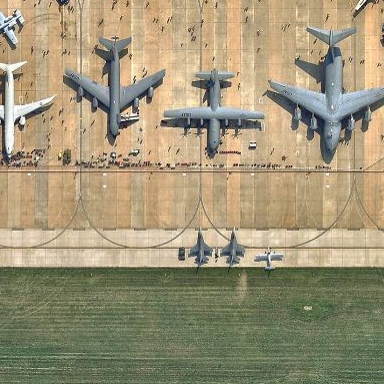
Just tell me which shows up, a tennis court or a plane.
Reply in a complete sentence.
Of the two, only a plane appears.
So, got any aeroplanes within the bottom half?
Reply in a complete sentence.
Yes, the scene does show an aeroplane within the bottom half.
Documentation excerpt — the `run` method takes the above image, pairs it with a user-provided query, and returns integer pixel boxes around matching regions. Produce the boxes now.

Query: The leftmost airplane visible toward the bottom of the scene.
[189,228,213,266]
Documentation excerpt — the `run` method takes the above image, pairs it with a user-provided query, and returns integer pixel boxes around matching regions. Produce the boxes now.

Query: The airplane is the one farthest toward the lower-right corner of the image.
[253,248,283,269]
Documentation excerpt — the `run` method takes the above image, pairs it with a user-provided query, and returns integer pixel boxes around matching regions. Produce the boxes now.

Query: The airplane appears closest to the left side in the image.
[0,9,24,45]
